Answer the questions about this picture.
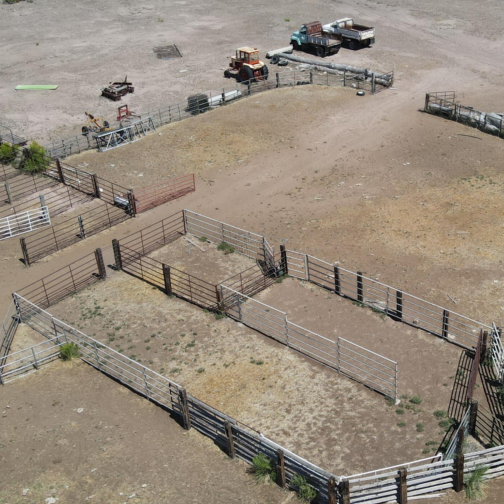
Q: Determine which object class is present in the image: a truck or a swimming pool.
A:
truck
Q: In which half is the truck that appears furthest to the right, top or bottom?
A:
top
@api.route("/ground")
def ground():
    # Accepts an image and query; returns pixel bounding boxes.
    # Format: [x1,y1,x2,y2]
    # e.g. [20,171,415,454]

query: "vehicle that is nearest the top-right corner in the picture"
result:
[326,17,379,49]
